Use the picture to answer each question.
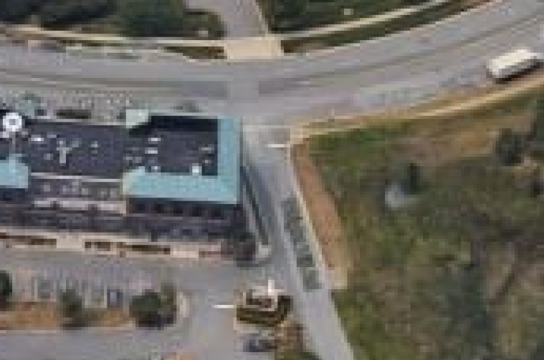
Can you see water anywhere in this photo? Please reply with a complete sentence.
No, water can't be seen anywhere here.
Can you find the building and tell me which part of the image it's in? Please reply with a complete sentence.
The building is in the left part of the image.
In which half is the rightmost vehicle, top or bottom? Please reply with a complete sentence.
The top half of the photo is where the rightmost vehicle is.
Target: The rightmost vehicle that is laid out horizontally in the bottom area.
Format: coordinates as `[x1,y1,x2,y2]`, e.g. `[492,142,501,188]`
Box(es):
[243,337,276,351]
